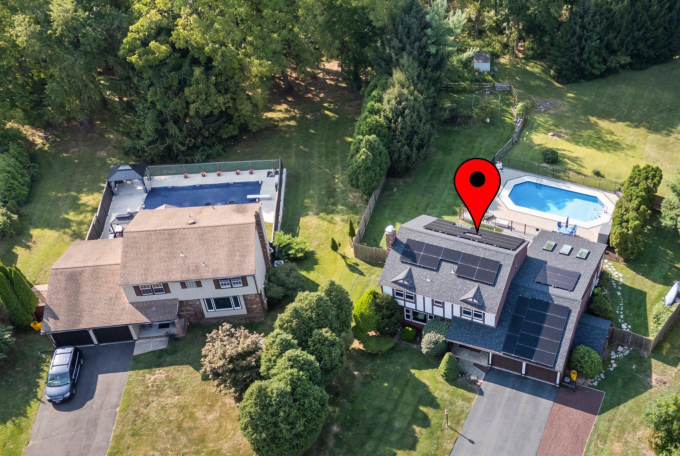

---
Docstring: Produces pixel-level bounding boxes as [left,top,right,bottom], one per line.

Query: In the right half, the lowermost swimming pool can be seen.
[499,174,613,229]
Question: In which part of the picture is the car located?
bottom left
